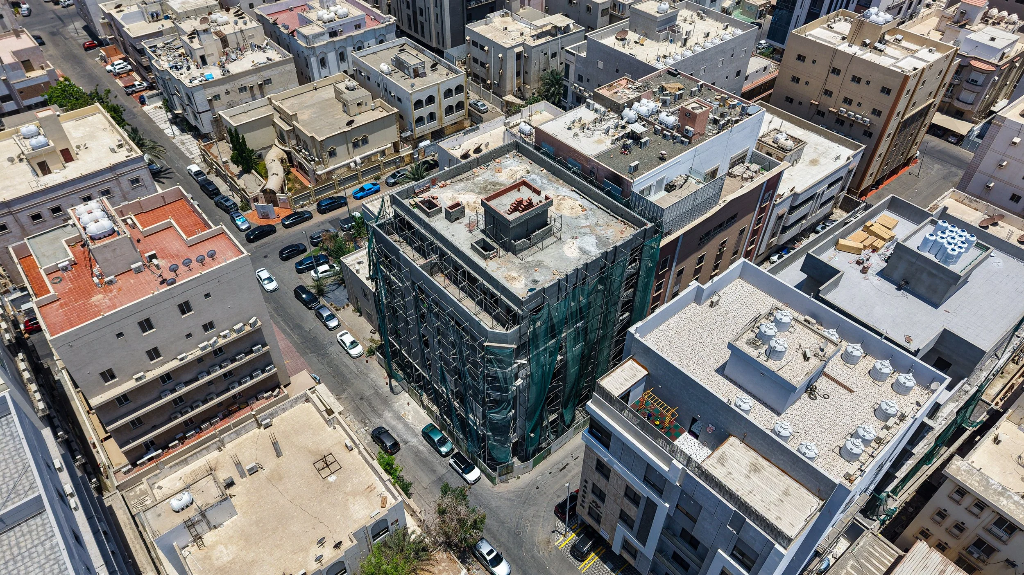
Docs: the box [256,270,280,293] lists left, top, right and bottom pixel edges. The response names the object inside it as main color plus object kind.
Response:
white car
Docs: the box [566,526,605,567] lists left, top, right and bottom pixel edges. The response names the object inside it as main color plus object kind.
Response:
black car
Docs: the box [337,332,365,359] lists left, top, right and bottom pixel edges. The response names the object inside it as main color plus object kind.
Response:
white car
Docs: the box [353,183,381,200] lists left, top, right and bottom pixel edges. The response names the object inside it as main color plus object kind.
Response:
blue car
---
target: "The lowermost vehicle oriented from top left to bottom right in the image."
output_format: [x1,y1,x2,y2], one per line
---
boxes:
[472,535,512,575]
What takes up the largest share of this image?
buildings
